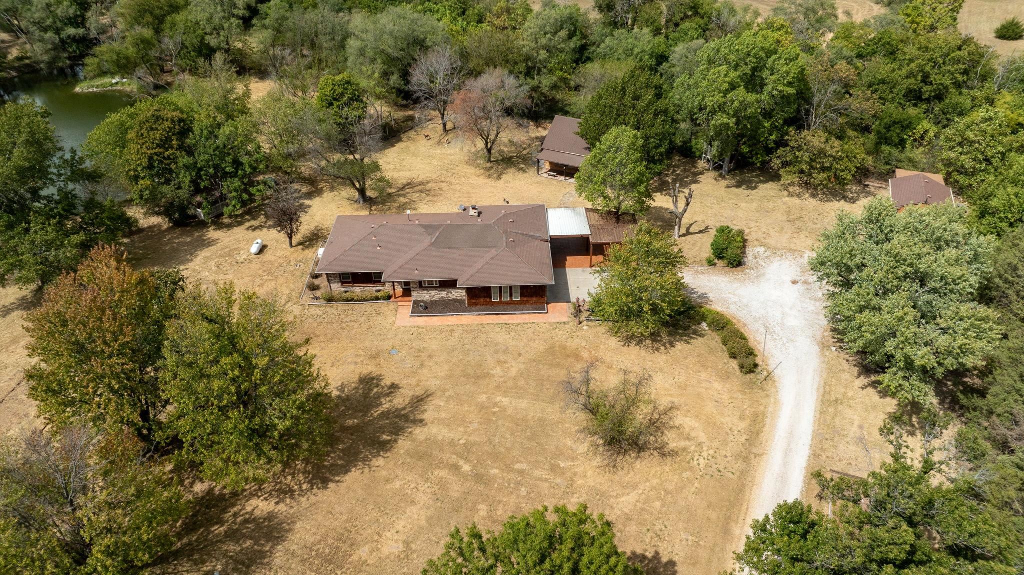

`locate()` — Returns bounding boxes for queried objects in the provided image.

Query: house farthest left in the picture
[315,199,555,306]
